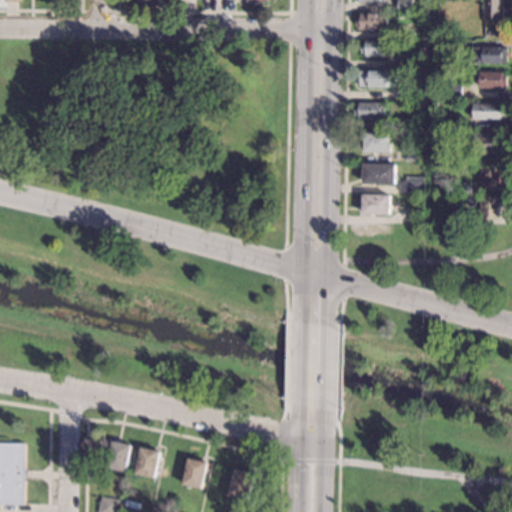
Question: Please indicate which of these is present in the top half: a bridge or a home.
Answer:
home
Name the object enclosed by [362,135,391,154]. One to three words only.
house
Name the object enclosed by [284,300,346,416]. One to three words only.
bridge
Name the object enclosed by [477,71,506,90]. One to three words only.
house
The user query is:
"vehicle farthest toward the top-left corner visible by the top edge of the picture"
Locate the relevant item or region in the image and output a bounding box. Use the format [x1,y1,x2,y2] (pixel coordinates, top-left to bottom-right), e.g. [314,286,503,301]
[99,4,111,20]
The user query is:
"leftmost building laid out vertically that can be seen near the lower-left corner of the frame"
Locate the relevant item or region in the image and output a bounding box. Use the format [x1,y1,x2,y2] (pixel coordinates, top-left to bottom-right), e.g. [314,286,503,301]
[0,442,30,505]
